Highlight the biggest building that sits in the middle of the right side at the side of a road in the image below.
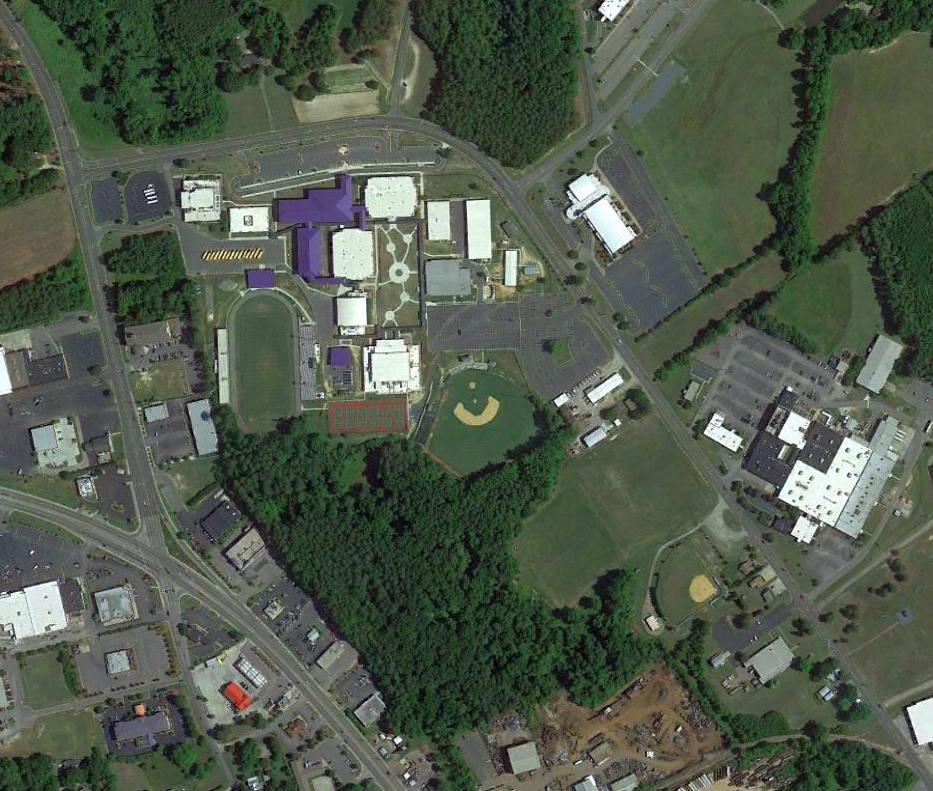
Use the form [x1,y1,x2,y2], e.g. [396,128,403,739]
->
[744,389,901,539]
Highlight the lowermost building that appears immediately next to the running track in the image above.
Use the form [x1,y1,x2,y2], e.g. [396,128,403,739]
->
[187,398,216,457]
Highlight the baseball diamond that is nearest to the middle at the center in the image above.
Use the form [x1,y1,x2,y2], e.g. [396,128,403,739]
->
[422,366,538,478]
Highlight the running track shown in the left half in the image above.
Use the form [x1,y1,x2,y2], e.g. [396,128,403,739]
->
[226,288,300,434]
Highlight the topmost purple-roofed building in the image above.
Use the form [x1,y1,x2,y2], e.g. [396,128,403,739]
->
[279,174,353,222]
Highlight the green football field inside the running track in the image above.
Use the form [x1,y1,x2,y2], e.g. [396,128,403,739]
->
[233,294,293,426]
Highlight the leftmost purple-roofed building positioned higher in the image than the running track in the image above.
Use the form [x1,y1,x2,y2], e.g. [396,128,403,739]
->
[248,268,275,288]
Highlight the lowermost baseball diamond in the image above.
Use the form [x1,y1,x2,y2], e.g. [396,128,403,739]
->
[652,539,718,626]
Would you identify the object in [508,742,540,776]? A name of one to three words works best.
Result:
shed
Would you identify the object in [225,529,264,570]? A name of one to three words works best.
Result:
building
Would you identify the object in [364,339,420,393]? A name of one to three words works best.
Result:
building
